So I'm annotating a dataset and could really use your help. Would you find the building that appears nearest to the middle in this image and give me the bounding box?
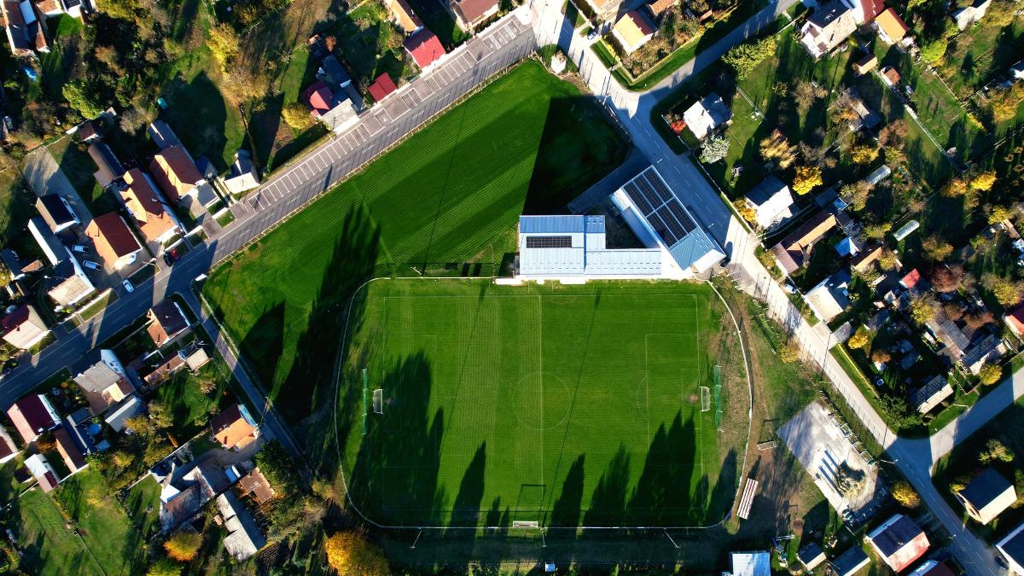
[519,215,662,275]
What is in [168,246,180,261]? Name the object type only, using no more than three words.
vehicle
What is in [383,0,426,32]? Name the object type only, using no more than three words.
house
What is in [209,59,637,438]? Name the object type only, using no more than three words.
sports field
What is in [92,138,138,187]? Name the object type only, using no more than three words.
barn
